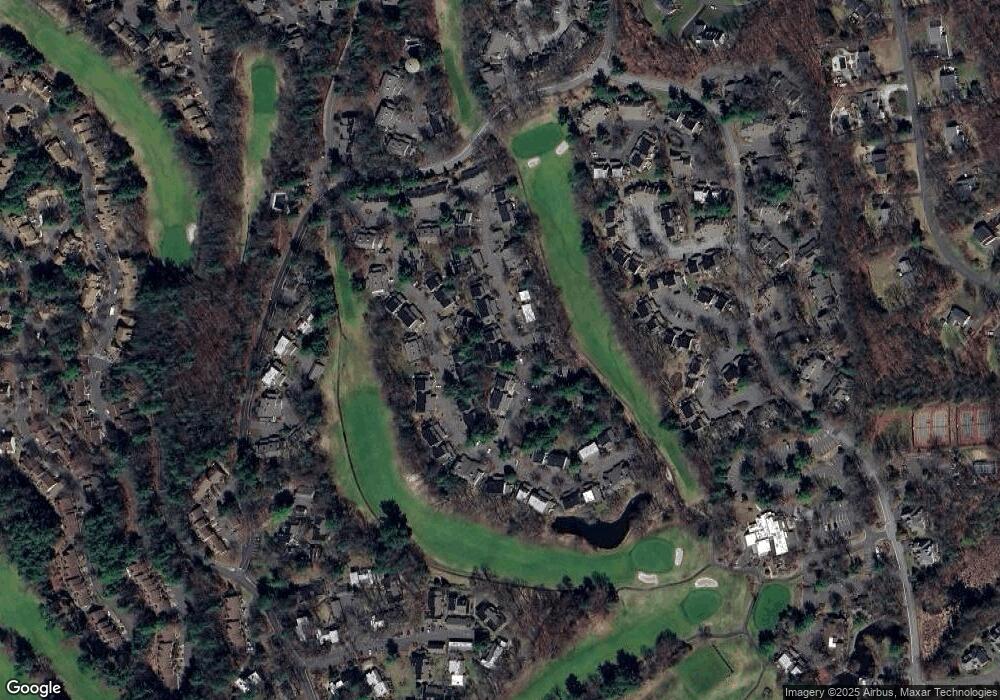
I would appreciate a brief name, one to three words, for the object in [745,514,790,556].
building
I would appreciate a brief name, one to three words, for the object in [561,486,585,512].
house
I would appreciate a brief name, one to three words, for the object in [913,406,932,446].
tennis court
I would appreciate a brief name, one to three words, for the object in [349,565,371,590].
house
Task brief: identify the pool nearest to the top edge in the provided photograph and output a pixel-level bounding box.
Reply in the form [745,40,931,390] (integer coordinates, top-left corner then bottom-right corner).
[835,54,849,70]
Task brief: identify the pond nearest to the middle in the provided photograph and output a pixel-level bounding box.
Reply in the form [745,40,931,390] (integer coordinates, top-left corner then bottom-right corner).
[550,491,653,551]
